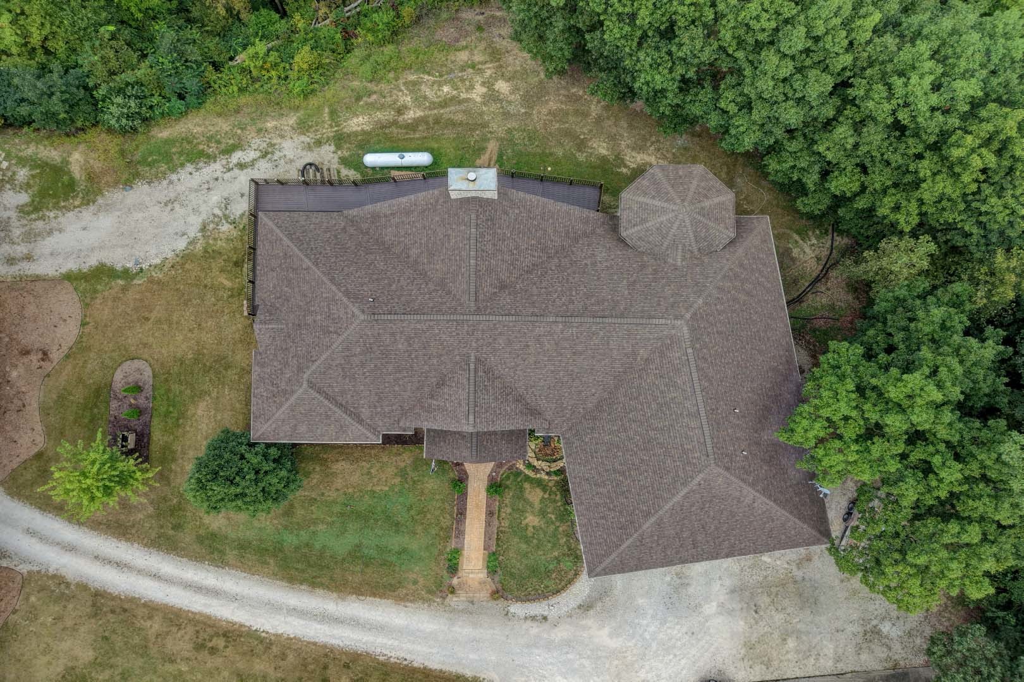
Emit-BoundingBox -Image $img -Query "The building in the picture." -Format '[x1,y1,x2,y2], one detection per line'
[250,164,831,578]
